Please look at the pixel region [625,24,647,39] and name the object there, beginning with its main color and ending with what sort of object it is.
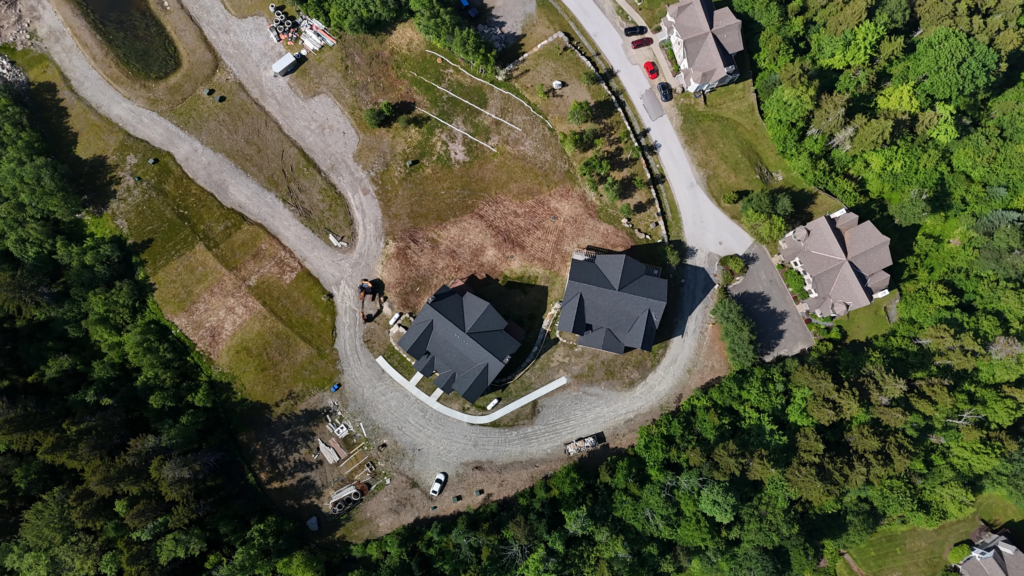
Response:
black car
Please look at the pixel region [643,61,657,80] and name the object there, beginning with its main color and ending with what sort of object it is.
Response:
red car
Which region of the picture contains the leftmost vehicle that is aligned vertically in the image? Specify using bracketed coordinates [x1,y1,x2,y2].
[357,280,373,323]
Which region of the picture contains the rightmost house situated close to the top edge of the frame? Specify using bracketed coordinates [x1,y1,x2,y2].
[655,0,744,94]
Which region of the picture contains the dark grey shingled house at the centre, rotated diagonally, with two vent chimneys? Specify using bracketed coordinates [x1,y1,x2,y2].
[397,277,527,404]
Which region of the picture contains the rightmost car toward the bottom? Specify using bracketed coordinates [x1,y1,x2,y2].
[429,472,445,497]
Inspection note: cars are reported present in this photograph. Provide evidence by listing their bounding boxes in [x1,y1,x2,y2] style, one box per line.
[657,82,671,102]
[625,24,647,39]
[643,61,657,80]
[429,472,445,497]
[631,36,653,51]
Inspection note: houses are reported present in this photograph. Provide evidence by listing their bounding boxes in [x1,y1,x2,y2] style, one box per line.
[397,277,527,404]
[949,532,1024,576]
[771,208,893,317]
[558,248,667,356]
[655,0,744,94]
